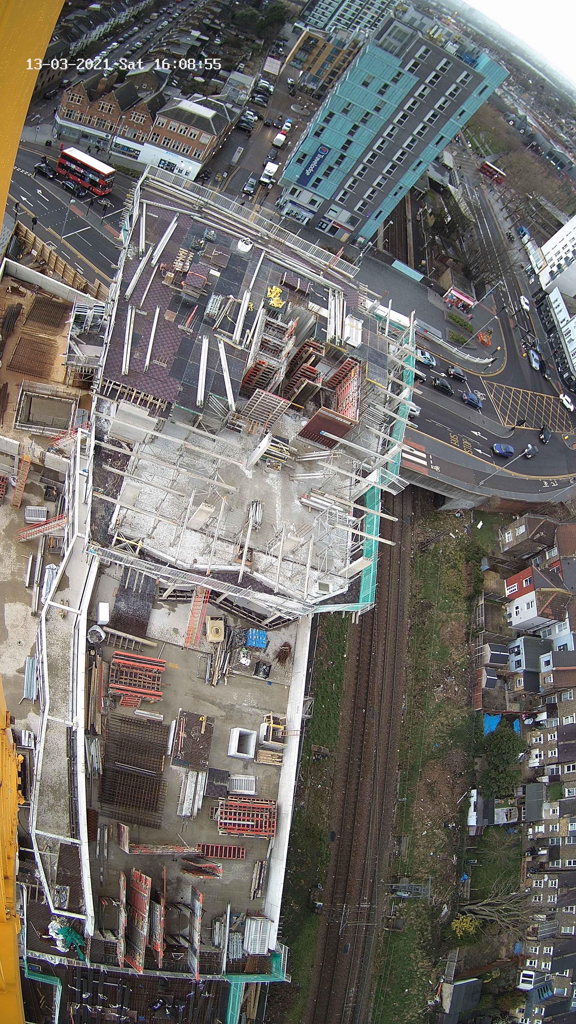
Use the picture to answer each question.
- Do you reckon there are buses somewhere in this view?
Yes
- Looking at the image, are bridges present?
Yes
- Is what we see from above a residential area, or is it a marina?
residential area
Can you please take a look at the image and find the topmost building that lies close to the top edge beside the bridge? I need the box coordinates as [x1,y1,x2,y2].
[278,21,507,250]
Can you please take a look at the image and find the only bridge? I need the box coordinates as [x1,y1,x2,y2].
[378,331,495,515]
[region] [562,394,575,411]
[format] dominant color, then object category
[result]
white vehicle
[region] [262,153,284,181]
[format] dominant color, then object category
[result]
white vehicle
